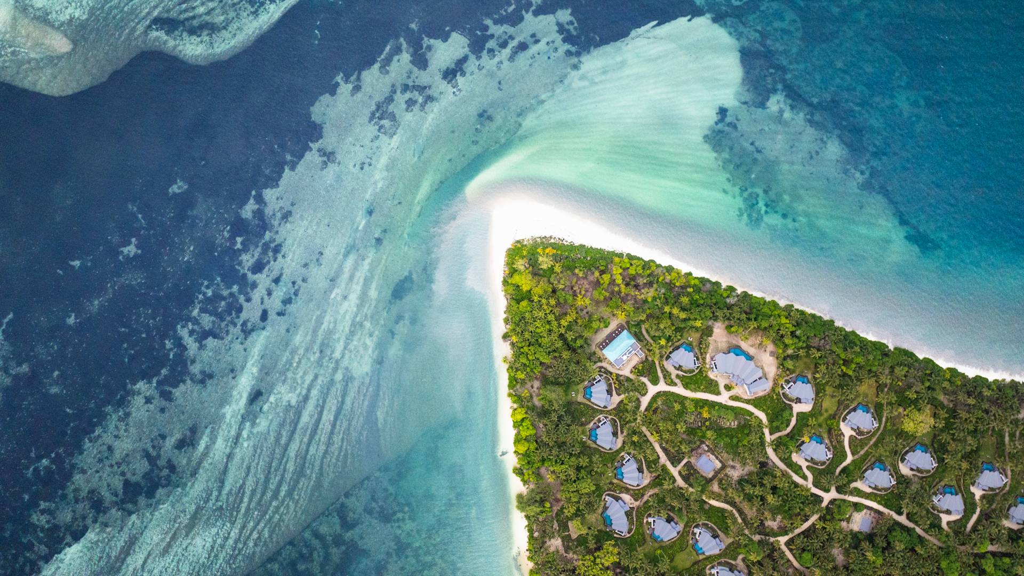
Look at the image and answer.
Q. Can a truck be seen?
No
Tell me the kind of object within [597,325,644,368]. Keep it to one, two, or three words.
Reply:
building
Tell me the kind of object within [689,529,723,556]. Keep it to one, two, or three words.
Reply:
house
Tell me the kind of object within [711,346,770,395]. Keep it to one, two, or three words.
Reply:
building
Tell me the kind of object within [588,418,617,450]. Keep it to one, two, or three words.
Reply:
house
